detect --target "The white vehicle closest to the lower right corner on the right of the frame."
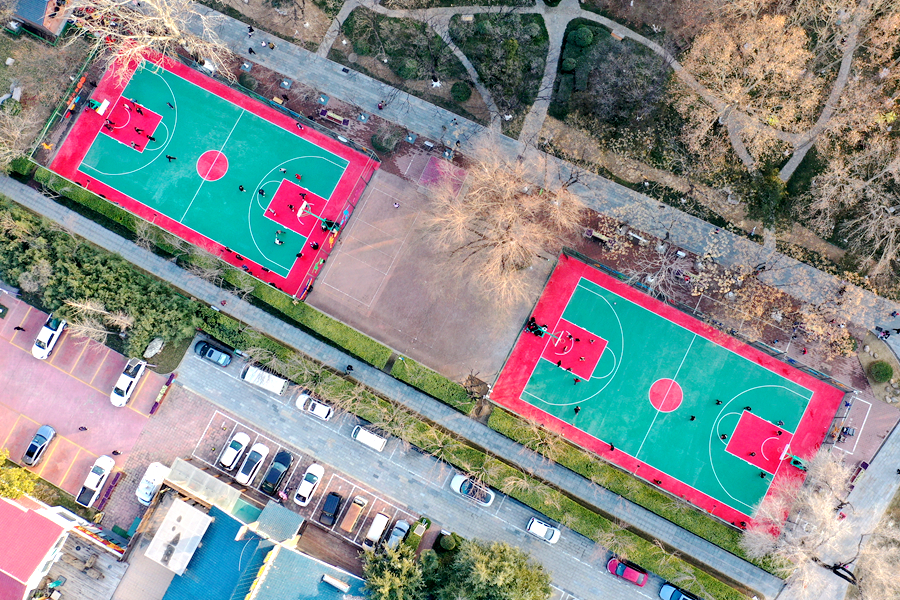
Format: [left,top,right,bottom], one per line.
[522,513,563,544]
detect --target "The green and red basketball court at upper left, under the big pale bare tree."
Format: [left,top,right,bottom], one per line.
[50,38,379,302]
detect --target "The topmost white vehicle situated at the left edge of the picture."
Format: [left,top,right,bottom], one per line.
[34,314,69,359]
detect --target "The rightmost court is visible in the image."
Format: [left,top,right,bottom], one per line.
[834,397,872,454]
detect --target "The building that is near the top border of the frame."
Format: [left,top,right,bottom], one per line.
[10,0,98,49]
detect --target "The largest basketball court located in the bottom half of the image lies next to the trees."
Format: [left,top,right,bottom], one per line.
[490,254,846,548]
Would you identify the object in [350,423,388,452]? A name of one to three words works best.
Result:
van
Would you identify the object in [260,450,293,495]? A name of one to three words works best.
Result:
car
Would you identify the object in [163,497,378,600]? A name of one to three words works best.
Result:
building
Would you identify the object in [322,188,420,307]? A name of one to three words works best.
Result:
sports court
